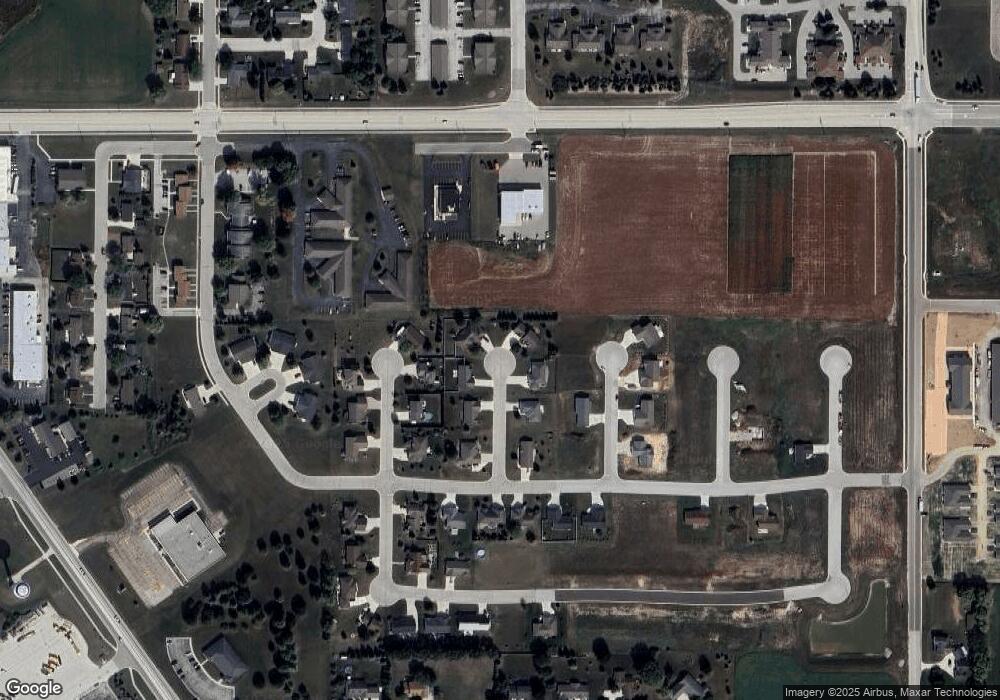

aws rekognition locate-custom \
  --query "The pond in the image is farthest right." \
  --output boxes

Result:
[811,580,887,654]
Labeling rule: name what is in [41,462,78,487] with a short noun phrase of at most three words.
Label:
shed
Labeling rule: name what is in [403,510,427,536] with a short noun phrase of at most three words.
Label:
house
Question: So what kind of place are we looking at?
residential area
